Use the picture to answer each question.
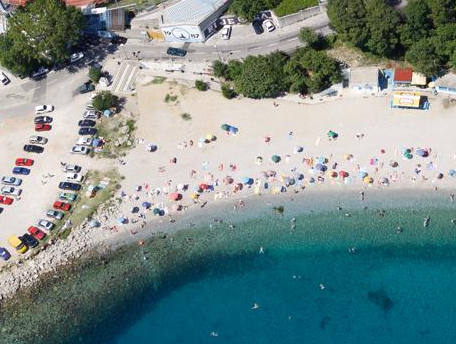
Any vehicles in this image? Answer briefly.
Yes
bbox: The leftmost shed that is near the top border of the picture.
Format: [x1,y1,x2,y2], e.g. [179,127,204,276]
[84,15,105,40]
